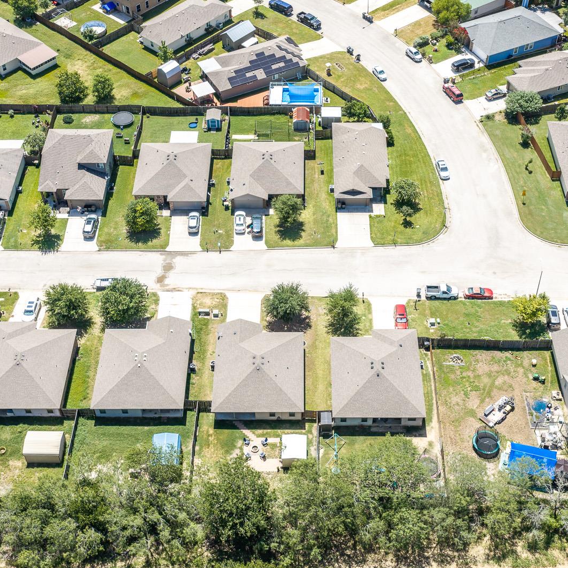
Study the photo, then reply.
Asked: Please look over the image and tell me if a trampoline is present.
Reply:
Yes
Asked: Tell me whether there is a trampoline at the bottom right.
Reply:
Yes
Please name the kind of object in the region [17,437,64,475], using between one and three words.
shed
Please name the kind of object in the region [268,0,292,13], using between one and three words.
vehicle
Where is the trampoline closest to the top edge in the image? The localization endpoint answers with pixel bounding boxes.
[111,115,133,131]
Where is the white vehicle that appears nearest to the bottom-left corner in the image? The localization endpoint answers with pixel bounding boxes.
[23,294,42,321]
